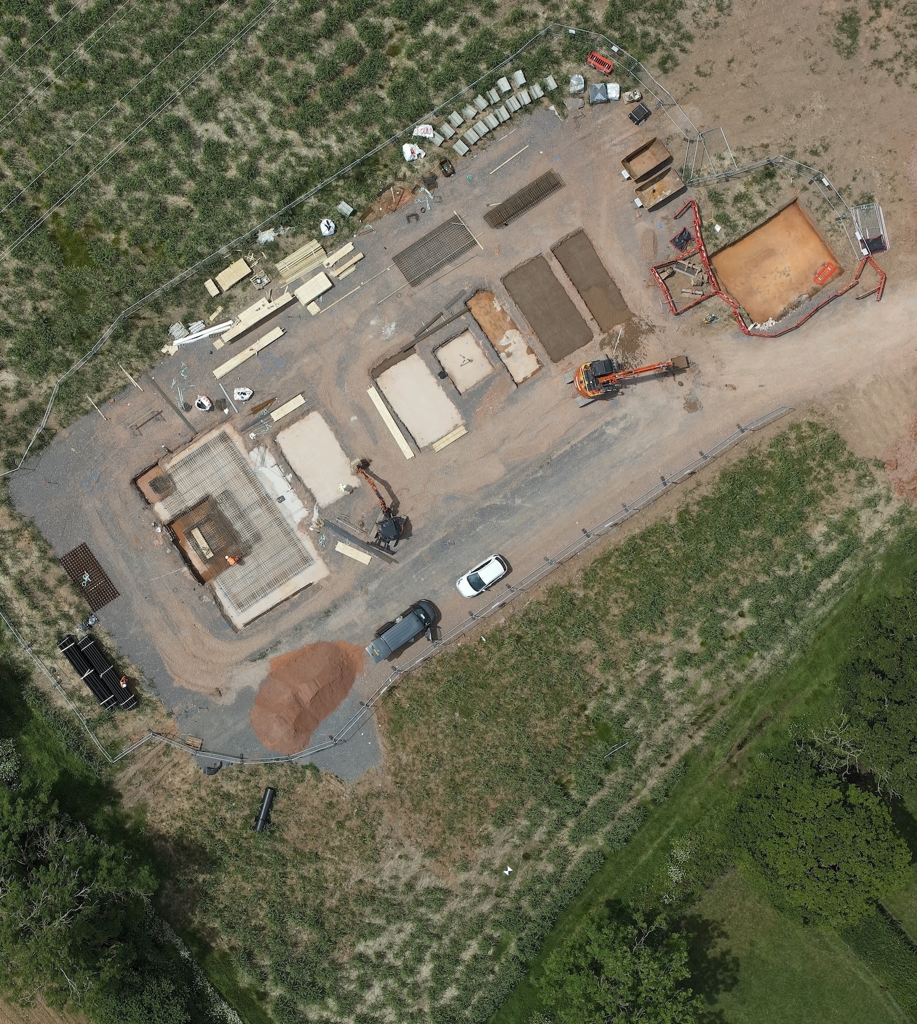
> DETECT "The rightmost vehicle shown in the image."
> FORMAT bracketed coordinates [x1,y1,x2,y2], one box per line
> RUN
[561,354,693,407]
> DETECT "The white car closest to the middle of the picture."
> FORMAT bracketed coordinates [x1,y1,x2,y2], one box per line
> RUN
[456,552,510,599]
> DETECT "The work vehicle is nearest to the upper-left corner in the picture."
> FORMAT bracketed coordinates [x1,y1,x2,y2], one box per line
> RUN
[348,454,406,555]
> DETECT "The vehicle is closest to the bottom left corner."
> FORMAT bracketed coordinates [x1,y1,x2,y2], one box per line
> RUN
[367,596,443,662]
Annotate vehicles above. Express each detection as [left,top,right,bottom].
[348,454,406,555]
[561,354,693,407]
[367,596,443,662]
[456,552,510,599]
